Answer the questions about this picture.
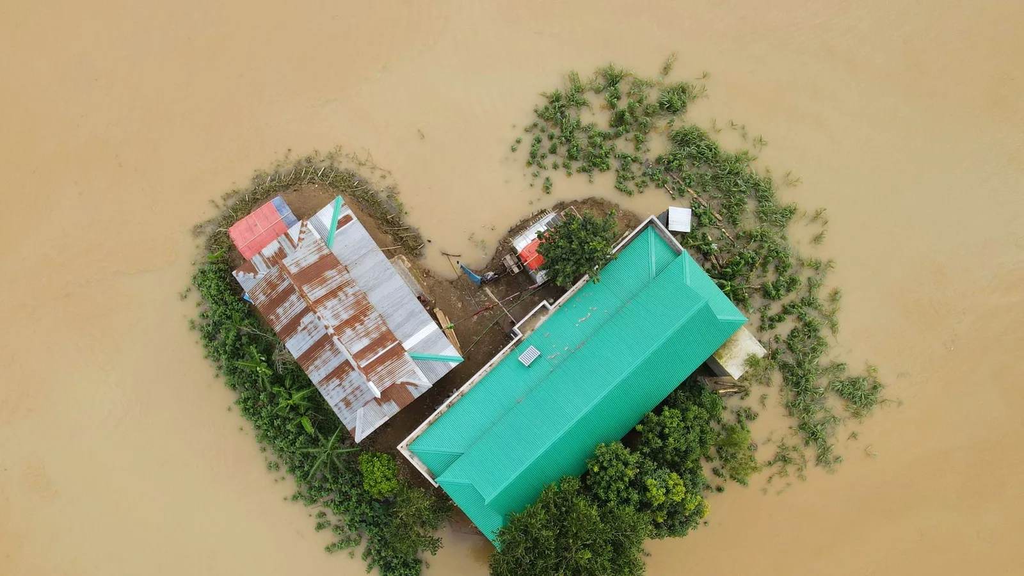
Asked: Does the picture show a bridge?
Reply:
No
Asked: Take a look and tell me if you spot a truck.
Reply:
No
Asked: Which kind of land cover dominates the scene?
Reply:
water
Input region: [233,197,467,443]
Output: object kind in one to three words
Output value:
house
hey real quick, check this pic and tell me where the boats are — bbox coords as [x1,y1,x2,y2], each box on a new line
[458,260,481,285]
